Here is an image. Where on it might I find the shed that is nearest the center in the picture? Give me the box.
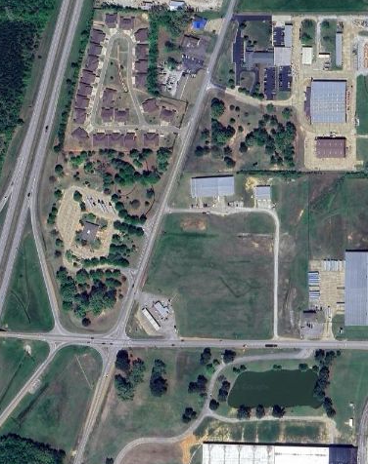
[193,175,235,197]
